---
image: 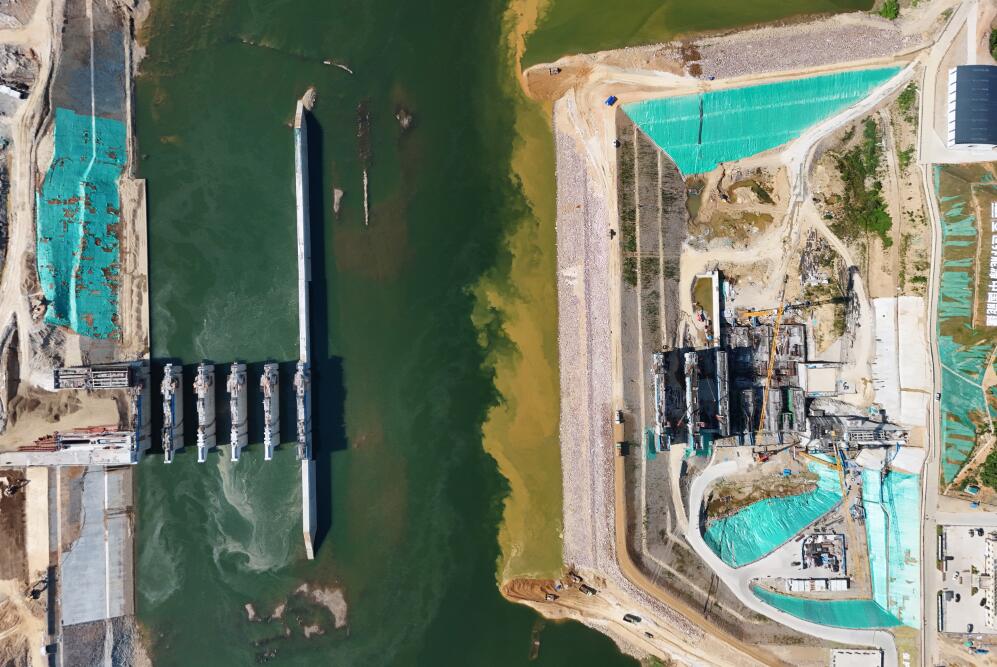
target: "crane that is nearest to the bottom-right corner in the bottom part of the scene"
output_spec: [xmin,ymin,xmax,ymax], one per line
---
[796,430,854,504]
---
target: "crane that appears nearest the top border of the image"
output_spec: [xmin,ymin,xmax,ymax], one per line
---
[737,256,799,442]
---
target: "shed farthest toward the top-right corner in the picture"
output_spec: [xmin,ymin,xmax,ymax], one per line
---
[944,64,997,150]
